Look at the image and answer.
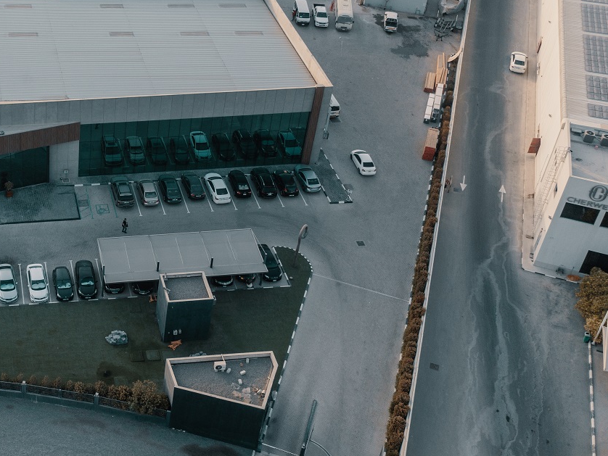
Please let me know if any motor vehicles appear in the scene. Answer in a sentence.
Yes, a motor vehicle appears in the view.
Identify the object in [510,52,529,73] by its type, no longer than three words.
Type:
car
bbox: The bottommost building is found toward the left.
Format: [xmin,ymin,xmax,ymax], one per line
[163,351,278,450]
